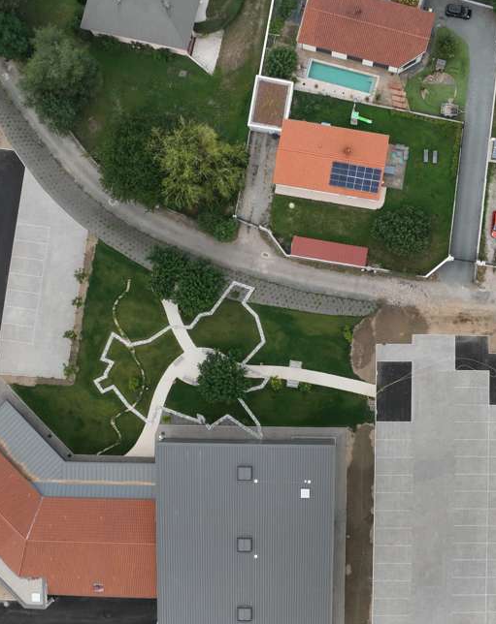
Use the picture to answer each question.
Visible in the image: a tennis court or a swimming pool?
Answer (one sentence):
There is a swimming pool in the scene.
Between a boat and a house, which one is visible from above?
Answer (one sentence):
It is a house that can be seen here.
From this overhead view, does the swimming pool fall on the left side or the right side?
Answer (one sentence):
The swimming pool is on the right side of the image.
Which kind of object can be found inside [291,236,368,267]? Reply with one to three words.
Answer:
shed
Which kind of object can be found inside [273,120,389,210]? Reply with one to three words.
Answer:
house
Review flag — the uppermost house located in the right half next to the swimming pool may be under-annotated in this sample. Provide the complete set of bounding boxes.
[298,0,435,73]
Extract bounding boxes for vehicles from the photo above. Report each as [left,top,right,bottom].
[444,1,471,21]
[490,211,496,238]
